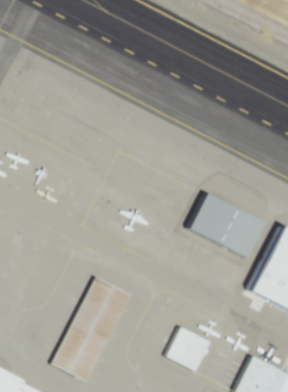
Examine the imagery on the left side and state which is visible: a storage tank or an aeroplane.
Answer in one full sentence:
The feature located on the left side is an aeroplane.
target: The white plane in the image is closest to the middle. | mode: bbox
[121,209,149,231]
